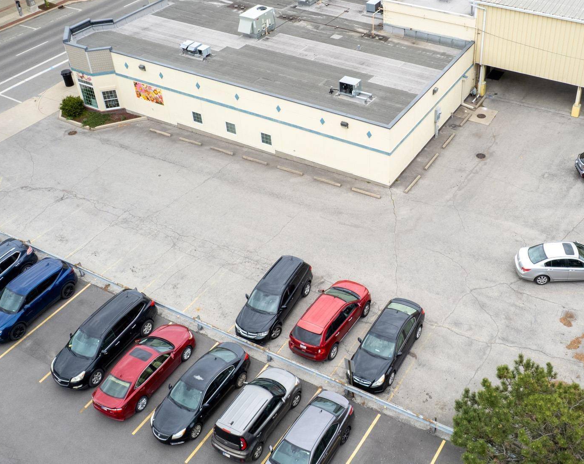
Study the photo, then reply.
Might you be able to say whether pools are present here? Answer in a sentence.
No, there isn't any pool down there.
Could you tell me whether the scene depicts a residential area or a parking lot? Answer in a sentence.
This image shows a parking lot.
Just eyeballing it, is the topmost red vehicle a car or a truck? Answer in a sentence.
It looks like the topmost red vehicle is a car.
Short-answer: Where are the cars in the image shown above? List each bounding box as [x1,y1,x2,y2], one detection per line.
[517,241,584,285]
[148,345,249,450]
[267,399,348,464]
[0,239,35,292]
[350,302,423,393]
[0,259,75,344]
[49,290,157,396]
[93,328,193,422]
[235,254,313,347]
[289,283,371,367]
[210,372,302,464]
